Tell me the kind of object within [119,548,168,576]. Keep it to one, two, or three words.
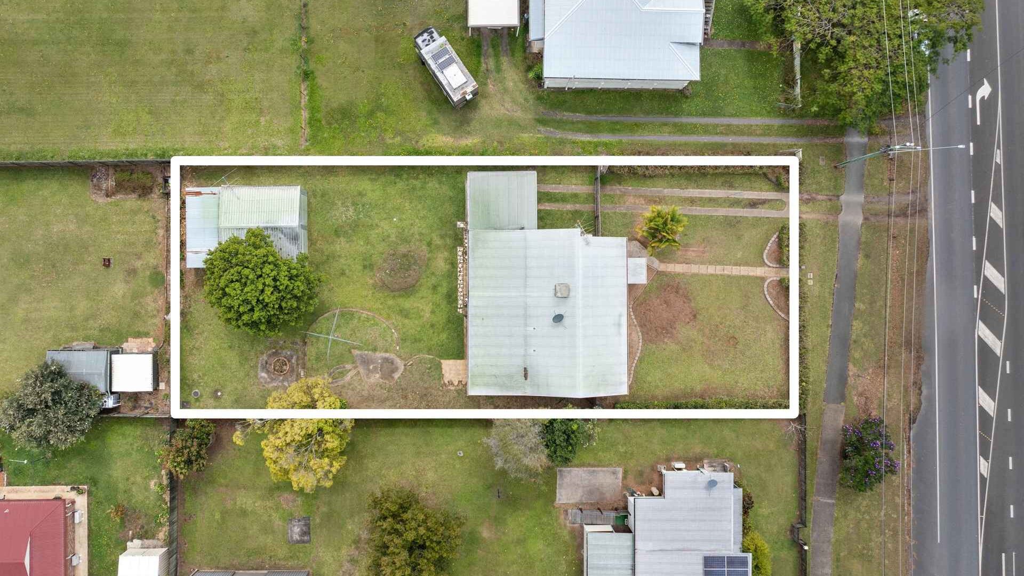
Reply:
shed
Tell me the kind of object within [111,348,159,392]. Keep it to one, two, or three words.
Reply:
shed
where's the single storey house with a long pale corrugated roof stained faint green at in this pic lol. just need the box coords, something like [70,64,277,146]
[466,228,630,398]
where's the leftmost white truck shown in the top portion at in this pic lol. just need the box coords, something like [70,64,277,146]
[413,26,481,111]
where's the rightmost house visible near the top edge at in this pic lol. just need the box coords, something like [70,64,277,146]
[542,0,705,93]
